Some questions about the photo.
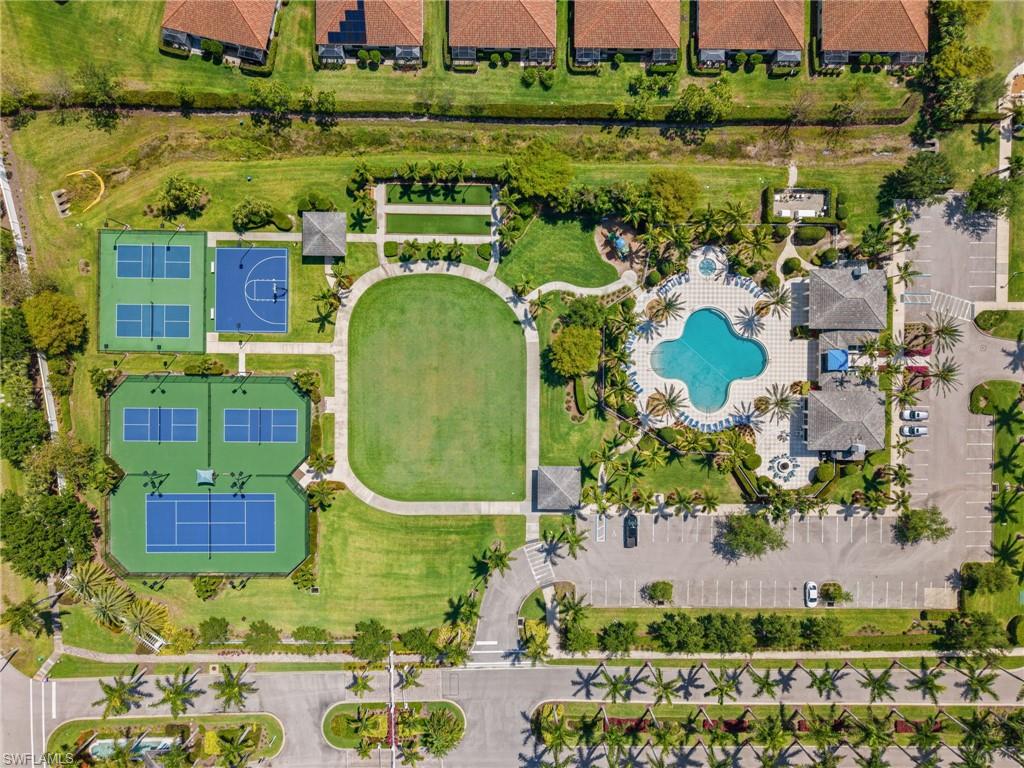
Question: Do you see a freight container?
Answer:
No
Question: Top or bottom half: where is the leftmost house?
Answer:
top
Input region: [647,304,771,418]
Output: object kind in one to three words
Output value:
swimming pool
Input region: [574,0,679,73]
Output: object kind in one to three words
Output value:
house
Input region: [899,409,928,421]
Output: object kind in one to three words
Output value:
vehicle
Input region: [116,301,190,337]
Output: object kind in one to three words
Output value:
sports court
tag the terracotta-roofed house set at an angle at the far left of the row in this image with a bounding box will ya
[159,0,279,72]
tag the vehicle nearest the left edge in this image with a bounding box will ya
[624,514,637,547]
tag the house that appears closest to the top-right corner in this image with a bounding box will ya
[818,0,928,76]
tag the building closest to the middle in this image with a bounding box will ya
[538,466,581,509]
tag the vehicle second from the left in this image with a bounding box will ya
[804,582,817,607]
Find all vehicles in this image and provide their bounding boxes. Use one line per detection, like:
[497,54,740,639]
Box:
[899,409,928,421]
[899,425,928,437]
[804,582,817,607]
[624,514,637,547]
